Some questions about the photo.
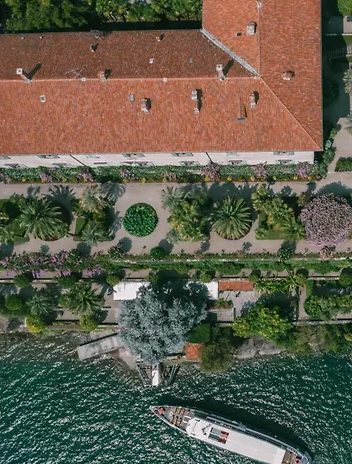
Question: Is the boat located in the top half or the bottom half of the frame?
bottom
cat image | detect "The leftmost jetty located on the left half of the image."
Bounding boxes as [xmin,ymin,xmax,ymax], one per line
[77,335,119,359]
